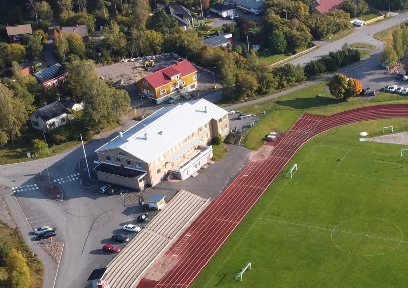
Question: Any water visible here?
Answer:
No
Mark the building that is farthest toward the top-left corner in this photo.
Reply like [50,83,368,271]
[7,23,34,44]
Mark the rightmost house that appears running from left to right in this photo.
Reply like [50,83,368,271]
[307,0,344,17]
